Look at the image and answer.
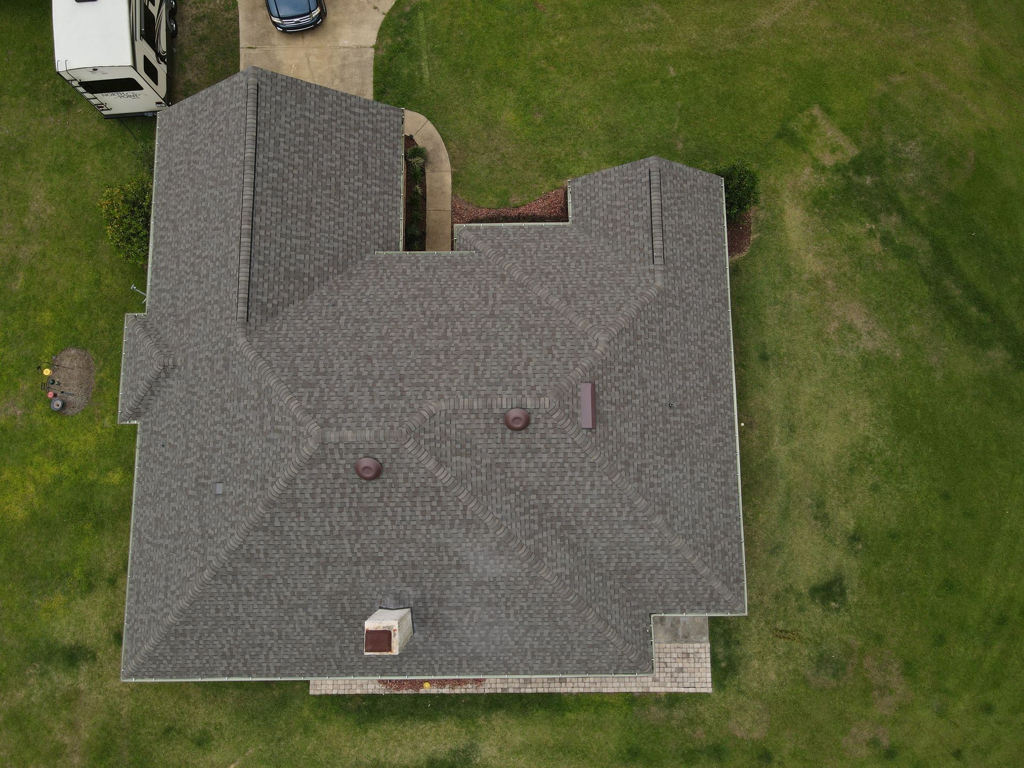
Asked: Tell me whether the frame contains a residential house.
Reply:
Yes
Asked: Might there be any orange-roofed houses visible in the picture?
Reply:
No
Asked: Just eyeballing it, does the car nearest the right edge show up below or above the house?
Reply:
above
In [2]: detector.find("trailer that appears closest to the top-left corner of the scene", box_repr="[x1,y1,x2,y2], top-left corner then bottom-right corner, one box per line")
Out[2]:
[55,0,177,119]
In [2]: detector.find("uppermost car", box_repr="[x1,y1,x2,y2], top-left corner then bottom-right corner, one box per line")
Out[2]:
[266,0,324,37]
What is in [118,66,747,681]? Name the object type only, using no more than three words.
house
